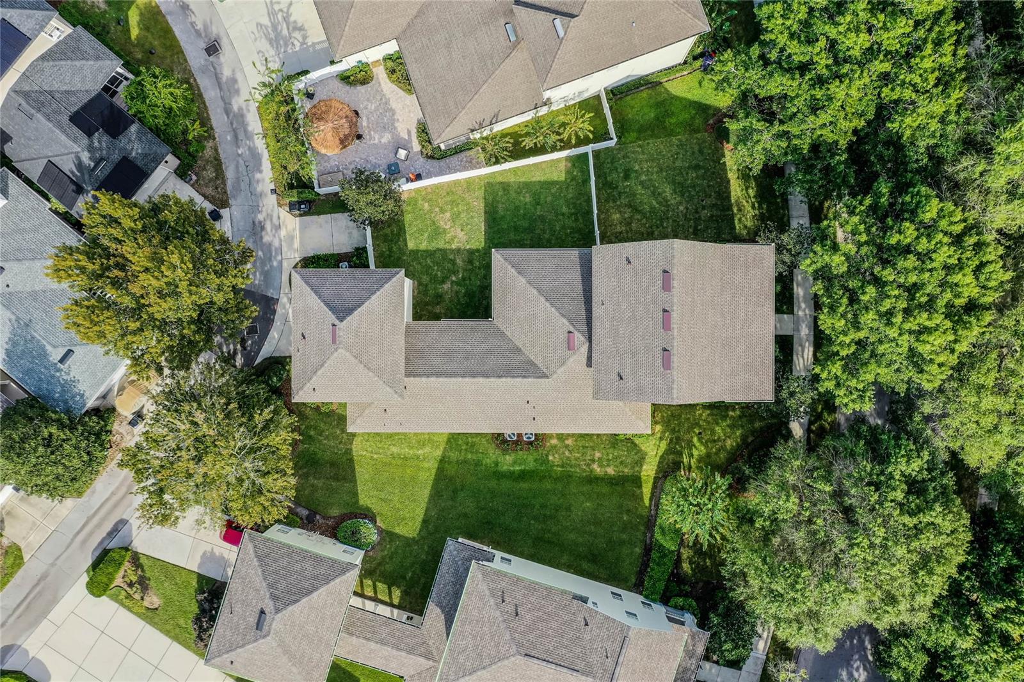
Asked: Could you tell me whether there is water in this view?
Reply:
No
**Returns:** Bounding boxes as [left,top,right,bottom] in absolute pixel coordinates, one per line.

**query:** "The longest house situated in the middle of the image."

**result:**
[291,239,775,434]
